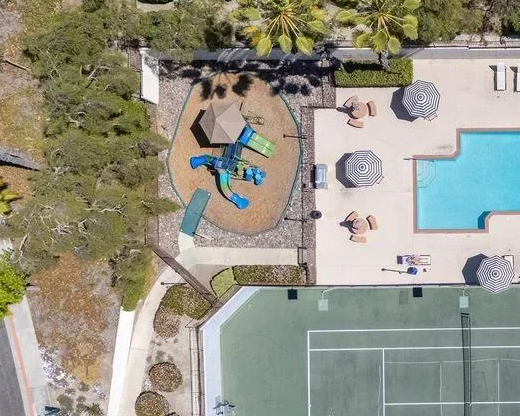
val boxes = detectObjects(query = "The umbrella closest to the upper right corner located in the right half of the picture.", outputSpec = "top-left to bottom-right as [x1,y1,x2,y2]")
[402,78,441,117]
